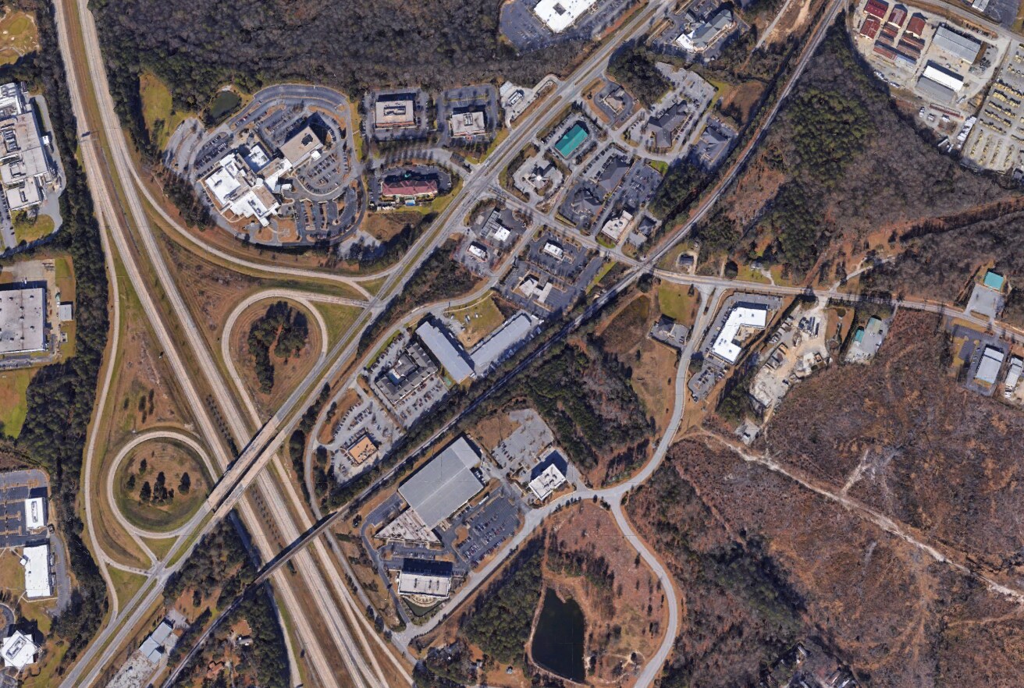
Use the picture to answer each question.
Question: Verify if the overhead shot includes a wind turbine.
No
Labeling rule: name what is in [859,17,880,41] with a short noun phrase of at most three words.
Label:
shed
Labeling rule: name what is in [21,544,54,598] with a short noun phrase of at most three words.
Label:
building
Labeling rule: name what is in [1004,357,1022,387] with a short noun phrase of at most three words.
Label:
building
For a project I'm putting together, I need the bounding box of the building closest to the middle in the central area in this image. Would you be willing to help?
[470,315,531,365]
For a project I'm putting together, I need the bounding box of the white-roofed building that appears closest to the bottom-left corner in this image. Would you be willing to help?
[0,628,42,669]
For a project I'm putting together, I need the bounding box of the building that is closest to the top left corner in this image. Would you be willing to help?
[0,81,53,211]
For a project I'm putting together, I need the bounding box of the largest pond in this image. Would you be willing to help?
[530,587,585,682]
